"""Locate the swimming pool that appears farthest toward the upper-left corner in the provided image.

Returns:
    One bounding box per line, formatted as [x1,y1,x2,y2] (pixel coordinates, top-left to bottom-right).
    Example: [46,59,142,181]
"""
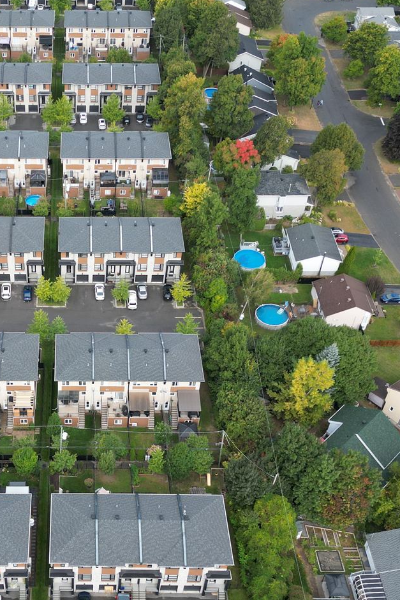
[25,195,41,208]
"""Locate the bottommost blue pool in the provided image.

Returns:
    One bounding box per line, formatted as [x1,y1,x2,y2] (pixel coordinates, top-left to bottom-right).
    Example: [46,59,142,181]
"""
[254,303,290,331]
